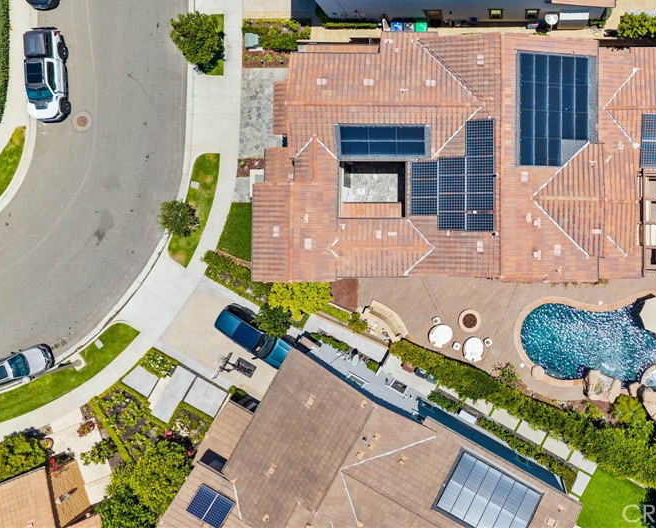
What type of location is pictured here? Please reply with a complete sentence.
The area seen from above is a residential area.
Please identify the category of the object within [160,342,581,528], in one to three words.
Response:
house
